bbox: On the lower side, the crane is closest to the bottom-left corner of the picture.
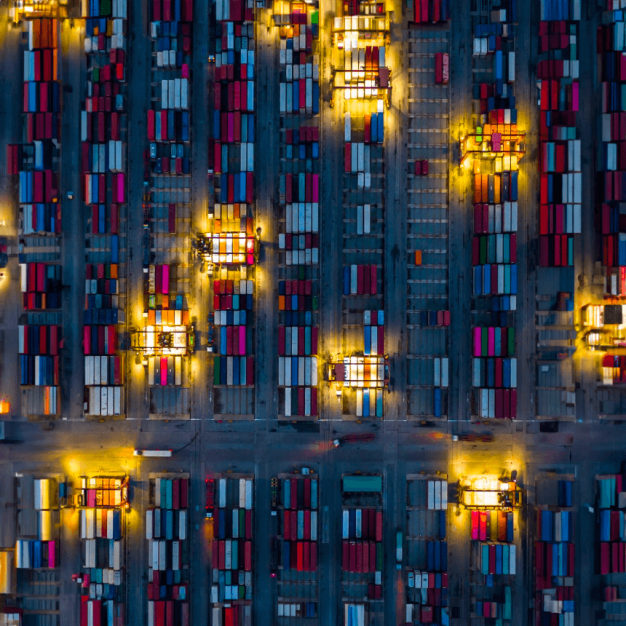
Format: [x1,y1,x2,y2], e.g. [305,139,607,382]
[61,473,132,509]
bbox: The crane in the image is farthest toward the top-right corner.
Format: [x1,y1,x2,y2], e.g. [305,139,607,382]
[458,131,528,166]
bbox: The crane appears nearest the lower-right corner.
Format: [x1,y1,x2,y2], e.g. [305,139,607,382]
[458,474,528,509]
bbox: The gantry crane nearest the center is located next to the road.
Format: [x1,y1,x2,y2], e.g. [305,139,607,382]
[328,355,392,386]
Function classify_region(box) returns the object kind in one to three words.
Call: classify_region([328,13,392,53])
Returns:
container crane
